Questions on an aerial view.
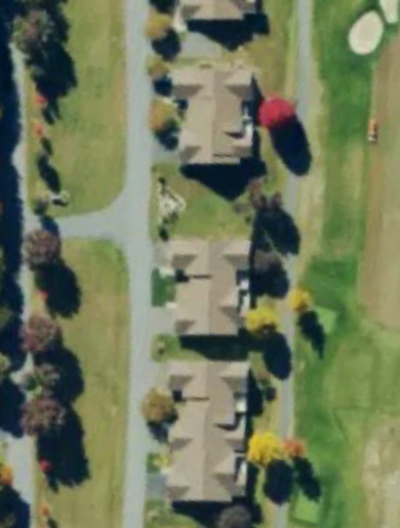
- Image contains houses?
Yes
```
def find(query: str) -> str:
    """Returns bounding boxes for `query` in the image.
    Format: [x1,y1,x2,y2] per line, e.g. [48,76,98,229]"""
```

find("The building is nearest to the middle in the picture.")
[170,238,249,337]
